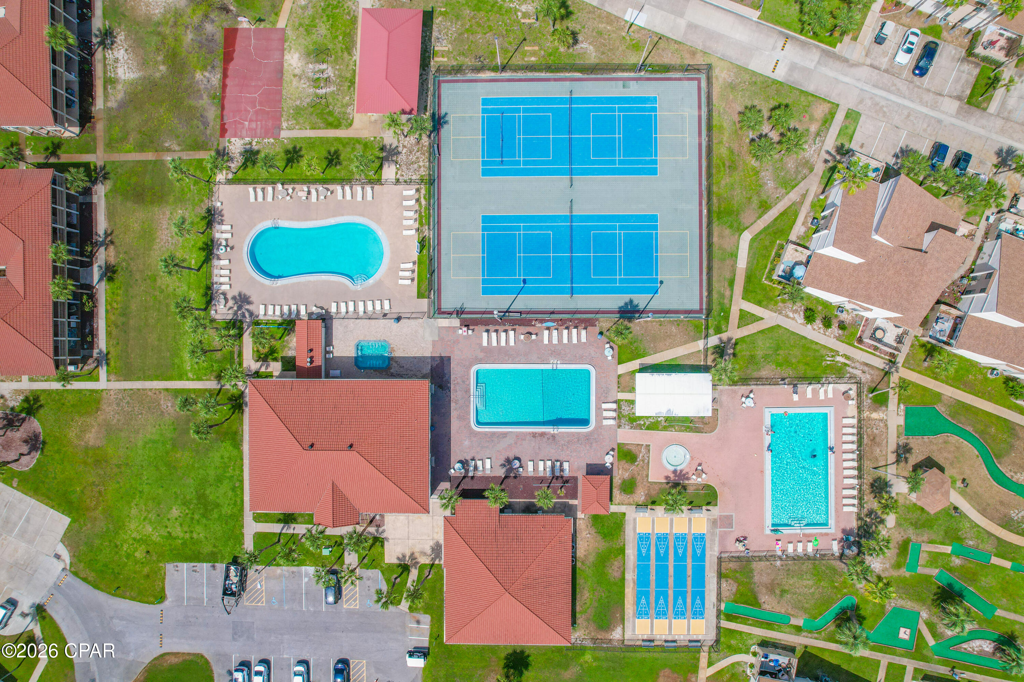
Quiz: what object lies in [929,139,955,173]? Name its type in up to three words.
car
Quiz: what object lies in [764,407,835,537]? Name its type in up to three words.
swimming pool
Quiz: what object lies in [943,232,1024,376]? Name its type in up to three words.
house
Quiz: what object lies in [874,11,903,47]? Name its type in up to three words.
car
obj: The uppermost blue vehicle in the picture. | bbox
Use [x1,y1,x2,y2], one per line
[914,37,944,77]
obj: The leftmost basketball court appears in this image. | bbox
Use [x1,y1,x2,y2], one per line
[220,27,285,138]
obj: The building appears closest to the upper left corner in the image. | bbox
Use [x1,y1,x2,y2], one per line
[0,0,76,135]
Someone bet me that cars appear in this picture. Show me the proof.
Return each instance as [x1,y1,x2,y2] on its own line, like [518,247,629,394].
[233,664,250,682]
[896,25,924,65]
[253,660,269,682]
[332,660,347,682]
[292,660,307,682]
[874,11,903,47]
[322,567,340,606]
[929,139,955,173]
[914,37,944,77]
[950,146,979,183]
